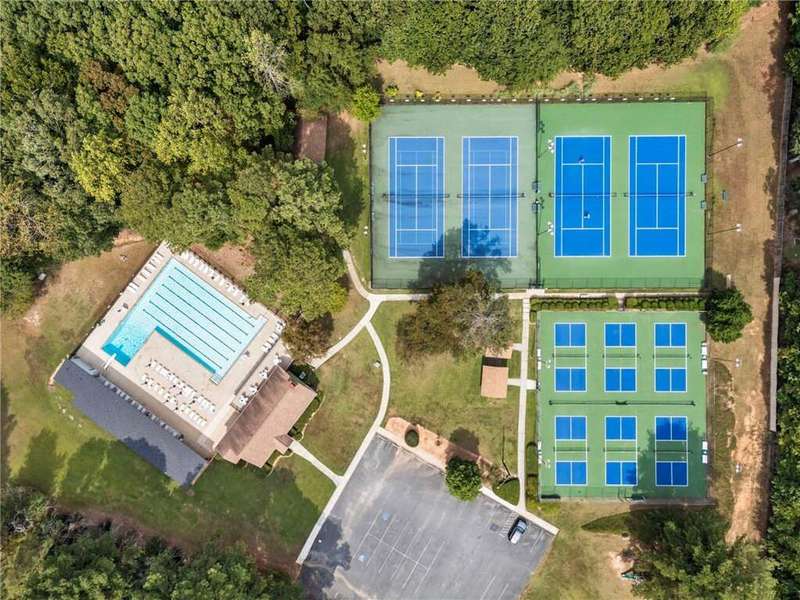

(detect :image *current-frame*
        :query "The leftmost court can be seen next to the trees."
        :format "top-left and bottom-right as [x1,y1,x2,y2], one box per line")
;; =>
[370,103,454,288]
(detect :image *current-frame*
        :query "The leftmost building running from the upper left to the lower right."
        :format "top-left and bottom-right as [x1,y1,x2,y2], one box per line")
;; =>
[52,355,214,488]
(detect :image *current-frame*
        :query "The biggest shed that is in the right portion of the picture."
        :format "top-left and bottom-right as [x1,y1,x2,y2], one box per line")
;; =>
[480,365,509,398]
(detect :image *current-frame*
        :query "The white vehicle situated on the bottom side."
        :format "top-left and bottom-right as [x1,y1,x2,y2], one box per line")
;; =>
[509,520,528,546]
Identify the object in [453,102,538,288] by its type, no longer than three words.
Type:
tennis court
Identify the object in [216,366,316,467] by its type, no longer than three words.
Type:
building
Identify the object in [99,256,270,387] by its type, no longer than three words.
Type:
swimming pool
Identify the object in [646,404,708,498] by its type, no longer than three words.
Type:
sports court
